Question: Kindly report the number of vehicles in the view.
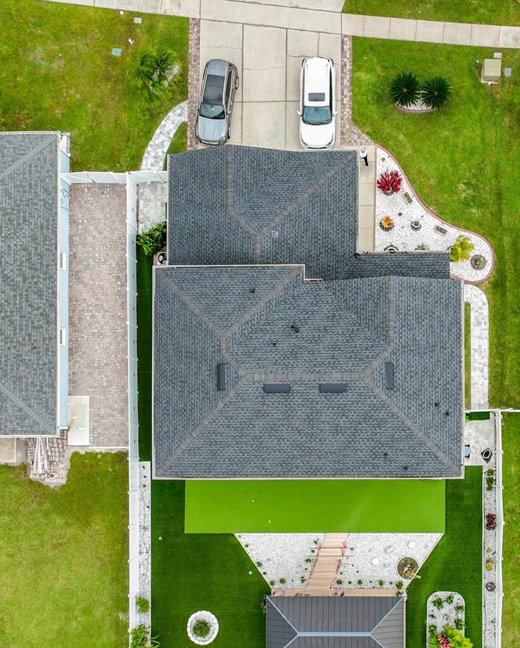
2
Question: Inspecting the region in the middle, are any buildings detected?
Yes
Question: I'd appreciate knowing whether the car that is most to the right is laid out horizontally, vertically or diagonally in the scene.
vertically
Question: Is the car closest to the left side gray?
Yes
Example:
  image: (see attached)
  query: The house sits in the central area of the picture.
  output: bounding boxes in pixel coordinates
[151,144,466,481]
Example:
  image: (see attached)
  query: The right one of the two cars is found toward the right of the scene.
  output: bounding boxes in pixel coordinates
[295,57,341,146]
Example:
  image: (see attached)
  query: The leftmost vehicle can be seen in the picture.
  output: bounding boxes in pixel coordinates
[193,57,240,147]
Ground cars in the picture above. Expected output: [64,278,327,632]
[295,57,341,146]
[193,57,240,147]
